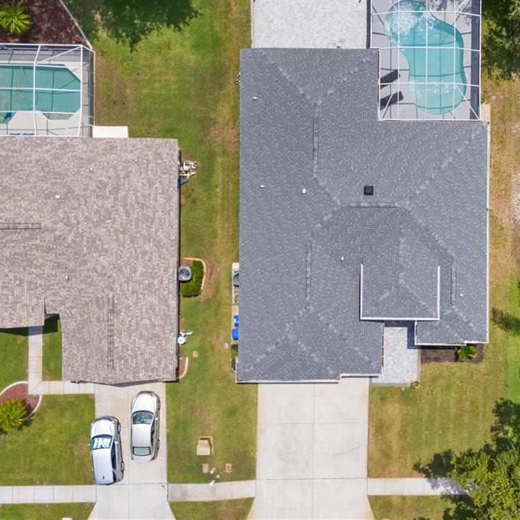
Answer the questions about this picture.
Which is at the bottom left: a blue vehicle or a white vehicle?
white vehicle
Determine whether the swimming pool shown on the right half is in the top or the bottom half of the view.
top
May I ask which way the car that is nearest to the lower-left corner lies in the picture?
vertically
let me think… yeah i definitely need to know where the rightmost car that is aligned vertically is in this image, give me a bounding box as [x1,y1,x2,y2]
[127,391,161,461]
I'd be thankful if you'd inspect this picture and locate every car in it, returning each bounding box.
[89,416,126,485]
[127,391,161,461]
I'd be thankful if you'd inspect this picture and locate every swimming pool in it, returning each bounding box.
[0,62,81,127]
[381,0,470,117]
